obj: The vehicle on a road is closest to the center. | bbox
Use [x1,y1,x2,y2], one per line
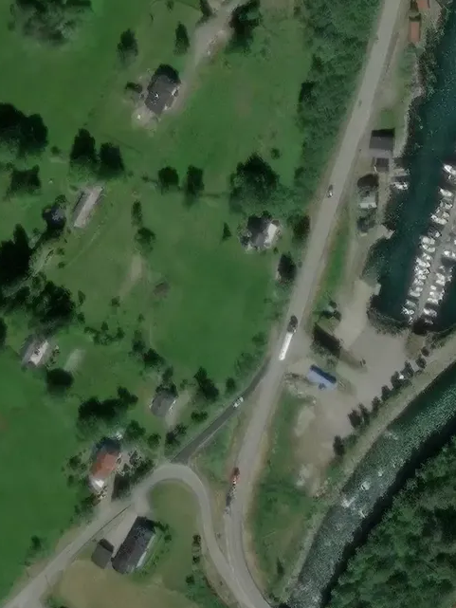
[278,316,297,360]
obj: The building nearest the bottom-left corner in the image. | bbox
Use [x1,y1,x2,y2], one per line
[91,544,113,568]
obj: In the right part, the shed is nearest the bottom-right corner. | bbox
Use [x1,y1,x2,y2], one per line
[305,365,337,392]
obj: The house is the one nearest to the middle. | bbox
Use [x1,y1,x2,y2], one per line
[255,219,285,247]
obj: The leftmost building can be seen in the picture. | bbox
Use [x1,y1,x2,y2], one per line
[21,336,48,366]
